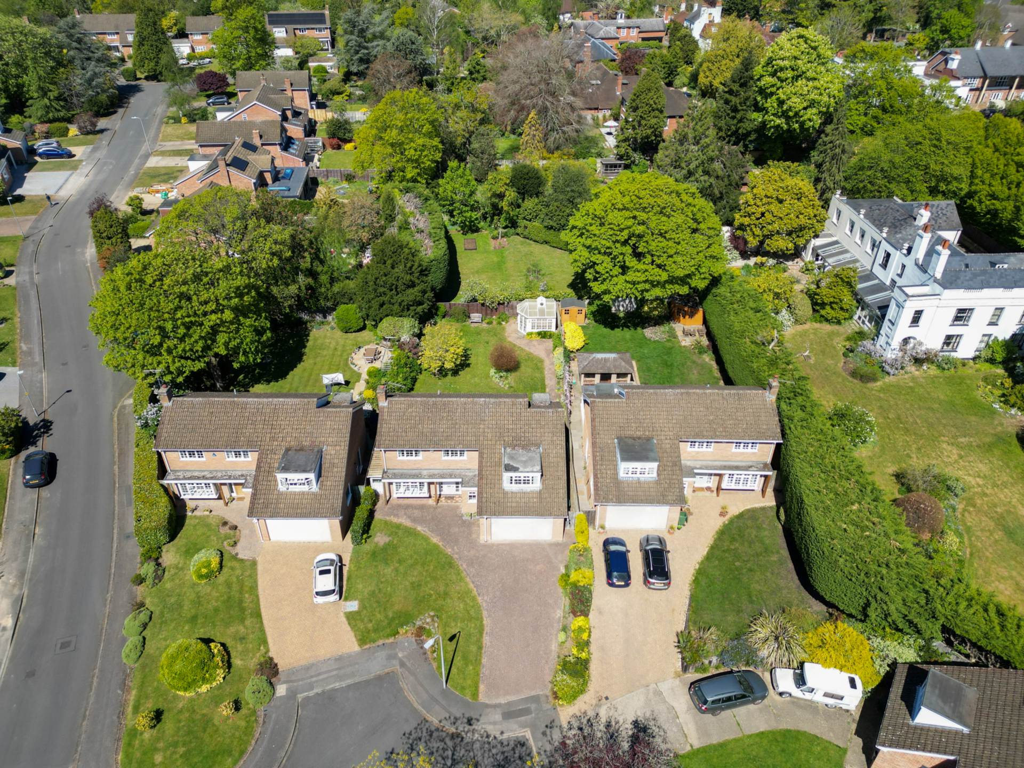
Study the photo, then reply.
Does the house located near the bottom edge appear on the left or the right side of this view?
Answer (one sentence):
It is on the right.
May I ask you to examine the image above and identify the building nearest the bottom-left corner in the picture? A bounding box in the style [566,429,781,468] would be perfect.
[151,376,362,539]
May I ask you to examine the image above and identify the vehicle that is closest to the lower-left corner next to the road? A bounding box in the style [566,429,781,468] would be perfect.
[17,448,51,489]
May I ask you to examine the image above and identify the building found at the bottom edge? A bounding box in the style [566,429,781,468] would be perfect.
[872,663,1024,768]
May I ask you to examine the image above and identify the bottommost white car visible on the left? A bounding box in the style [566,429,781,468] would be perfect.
[308,553,343,604]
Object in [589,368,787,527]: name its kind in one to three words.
house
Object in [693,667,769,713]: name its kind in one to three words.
car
